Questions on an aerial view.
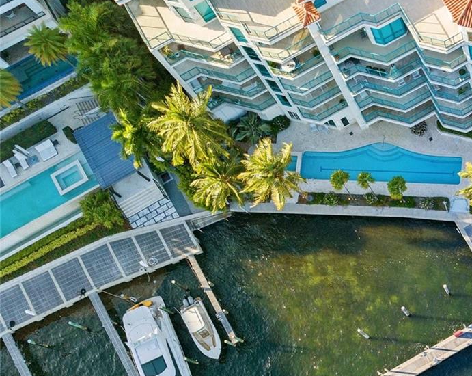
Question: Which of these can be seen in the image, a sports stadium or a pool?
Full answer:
There is a pool in the scene.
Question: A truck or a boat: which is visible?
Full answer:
I can see a boat in this picture.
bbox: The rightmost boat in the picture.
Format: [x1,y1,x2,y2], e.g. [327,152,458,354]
[179,300,222,359]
